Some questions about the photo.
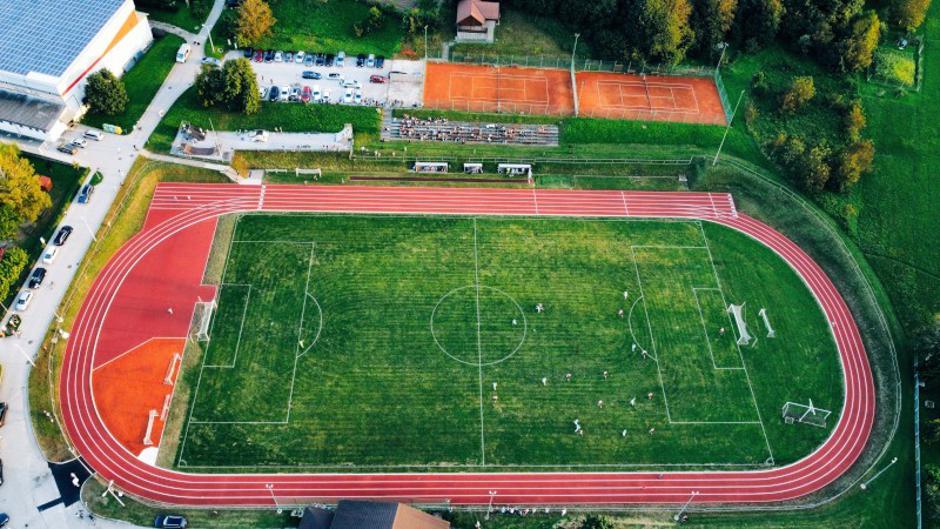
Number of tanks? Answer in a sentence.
Not a single tank can be seen.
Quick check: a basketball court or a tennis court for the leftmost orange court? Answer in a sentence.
The leftmost orange court is a tennis court.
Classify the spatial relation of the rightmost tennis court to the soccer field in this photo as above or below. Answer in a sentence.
Relative to the soccer field, the rightmost tennis court lies above it.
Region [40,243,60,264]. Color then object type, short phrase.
white car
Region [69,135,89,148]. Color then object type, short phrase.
white vehicle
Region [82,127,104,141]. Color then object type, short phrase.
white vehicle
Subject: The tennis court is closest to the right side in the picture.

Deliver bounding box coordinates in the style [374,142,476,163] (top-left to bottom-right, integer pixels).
[576,71,727,124]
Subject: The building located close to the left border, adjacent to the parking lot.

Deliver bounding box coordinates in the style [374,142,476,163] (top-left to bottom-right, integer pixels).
[0,0,155,155]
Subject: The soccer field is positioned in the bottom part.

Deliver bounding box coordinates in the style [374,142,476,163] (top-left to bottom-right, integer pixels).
[154,210,845,473]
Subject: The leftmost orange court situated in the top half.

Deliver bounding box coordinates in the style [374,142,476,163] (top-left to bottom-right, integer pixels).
[424,63,576,115]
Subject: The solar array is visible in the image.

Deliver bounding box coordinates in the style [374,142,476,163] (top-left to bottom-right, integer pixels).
[0,0,124,81]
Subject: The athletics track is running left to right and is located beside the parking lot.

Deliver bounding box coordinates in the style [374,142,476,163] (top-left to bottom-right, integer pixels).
[60,182,876,506]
